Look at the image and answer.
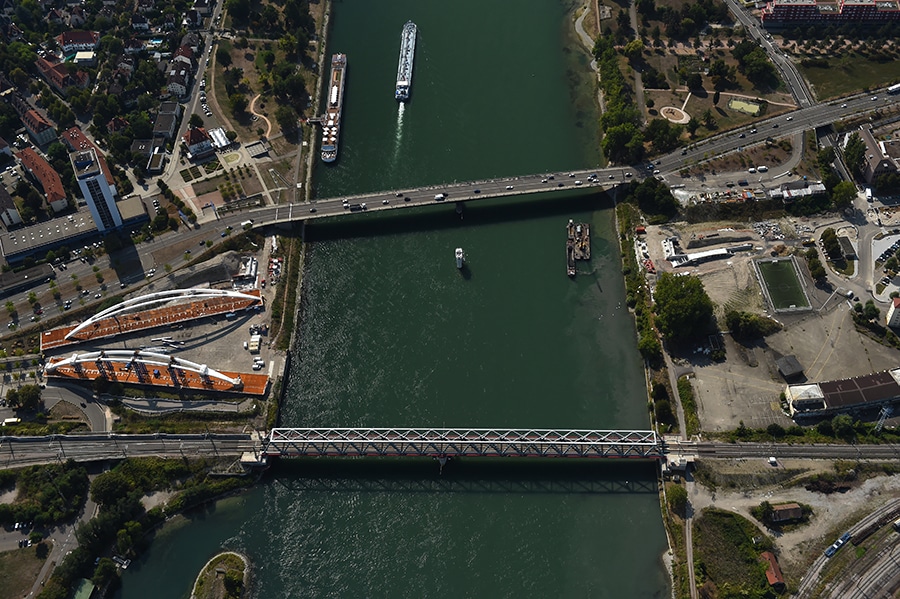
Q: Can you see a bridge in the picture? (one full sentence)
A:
Yes, looking at the shot, I can spot a bridge.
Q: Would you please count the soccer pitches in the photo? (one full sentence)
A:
Only 1 soccer pitch is visible.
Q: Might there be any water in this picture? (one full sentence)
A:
Yes, water can be seen from above here.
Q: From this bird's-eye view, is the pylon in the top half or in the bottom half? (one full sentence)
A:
The bottom half of the photo is where the pylon is.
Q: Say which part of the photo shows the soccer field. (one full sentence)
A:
The soccer field is located in the right region of the scene.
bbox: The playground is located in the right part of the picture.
[659,105,693,126]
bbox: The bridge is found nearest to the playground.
[244,160,659,230]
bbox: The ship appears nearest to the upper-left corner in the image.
[323,57,350,166]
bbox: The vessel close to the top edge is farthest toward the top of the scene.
[395,21,417,102]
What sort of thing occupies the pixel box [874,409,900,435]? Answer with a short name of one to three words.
pylon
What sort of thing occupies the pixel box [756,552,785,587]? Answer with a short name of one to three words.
building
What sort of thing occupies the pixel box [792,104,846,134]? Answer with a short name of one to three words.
overpass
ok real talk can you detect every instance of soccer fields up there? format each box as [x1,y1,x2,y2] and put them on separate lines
[753,255,811,313]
